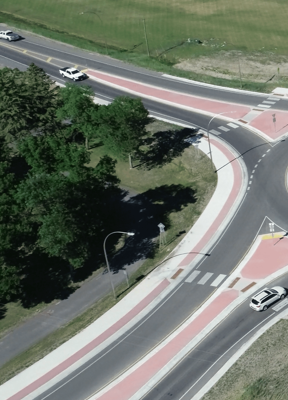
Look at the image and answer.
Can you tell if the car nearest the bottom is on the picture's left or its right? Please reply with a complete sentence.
You can find the car nearest the bottom on the right side of the picture.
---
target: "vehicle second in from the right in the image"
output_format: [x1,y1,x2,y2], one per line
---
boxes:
[59,68,85,81]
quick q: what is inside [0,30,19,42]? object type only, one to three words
vehicle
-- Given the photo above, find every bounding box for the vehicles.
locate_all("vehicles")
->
[59,68,85,81]
[249,285,288,311]
[0,30,19,42]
